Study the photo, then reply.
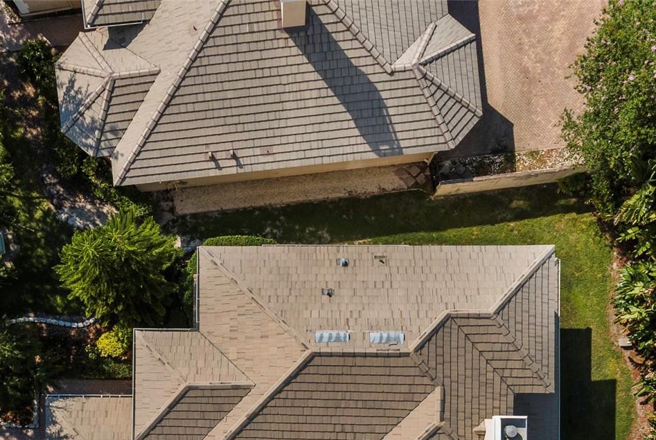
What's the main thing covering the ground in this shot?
buildings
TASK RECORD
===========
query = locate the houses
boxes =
[41,242,562,440]
[8,0,484,191]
